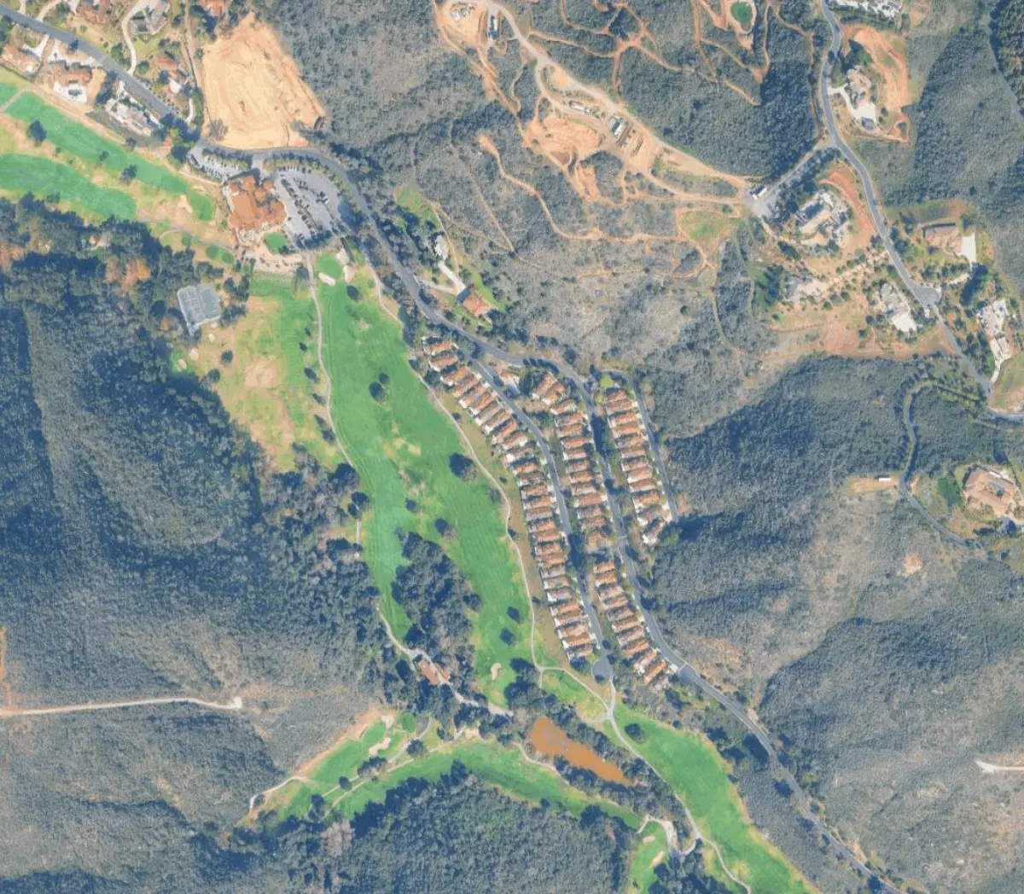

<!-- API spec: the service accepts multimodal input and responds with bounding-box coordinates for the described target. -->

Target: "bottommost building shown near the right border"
[961,462,1023,517]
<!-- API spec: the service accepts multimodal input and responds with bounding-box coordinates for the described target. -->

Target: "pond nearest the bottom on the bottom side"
[533,717,632,787]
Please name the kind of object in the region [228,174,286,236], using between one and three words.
building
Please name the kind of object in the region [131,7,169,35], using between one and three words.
house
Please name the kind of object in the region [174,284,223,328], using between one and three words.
tennis court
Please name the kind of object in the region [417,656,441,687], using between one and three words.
barn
